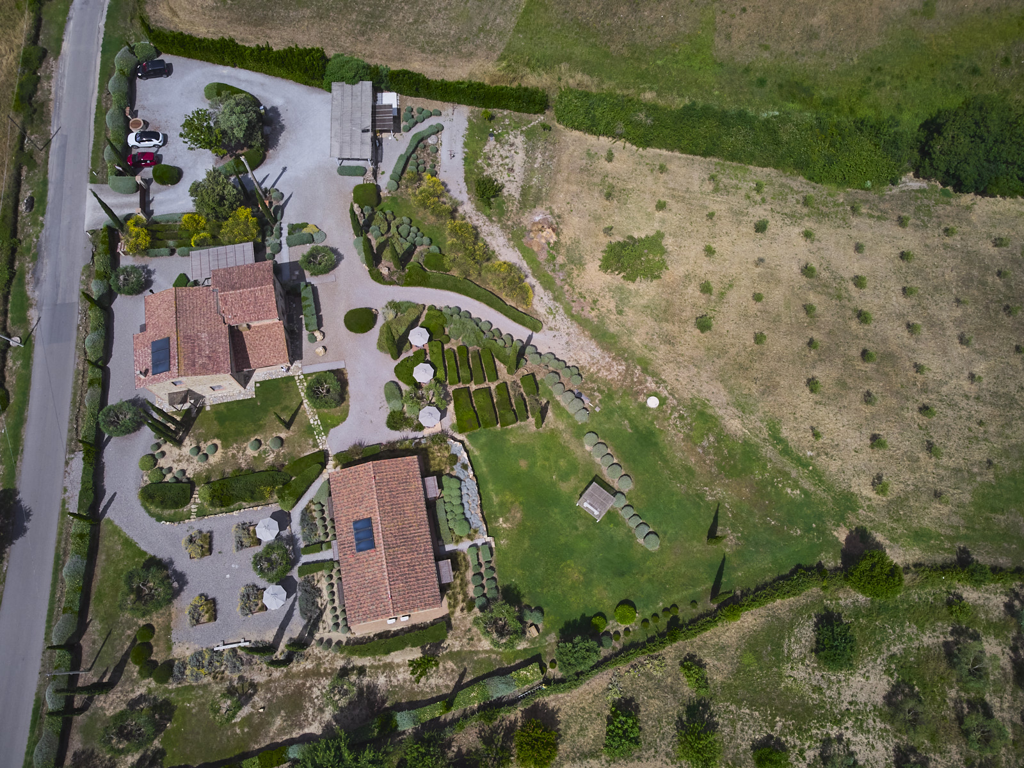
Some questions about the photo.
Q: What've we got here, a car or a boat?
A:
car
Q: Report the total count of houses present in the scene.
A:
2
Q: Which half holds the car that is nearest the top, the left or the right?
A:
left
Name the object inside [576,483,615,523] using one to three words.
gazebo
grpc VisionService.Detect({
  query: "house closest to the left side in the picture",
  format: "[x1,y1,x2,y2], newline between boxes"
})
[132,259,291,397]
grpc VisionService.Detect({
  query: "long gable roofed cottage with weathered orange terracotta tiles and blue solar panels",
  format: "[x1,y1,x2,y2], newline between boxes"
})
[329,456,442,627]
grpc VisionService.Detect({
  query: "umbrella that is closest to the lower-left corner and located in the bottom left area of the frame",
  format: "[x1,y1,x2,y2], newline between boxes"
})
[263,586,287,609]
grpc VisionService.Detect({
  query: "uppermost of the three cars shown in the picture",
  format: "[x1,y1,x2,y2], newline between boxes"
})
[138,58,170,79]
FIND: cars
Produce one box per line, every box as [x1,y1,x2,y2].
[129,129,166,150]
[138,58,170,79]
[127,150,160,170]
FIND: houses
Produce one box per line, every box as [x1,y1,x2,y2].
[329,456,442,627]
[132,259,291,397]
